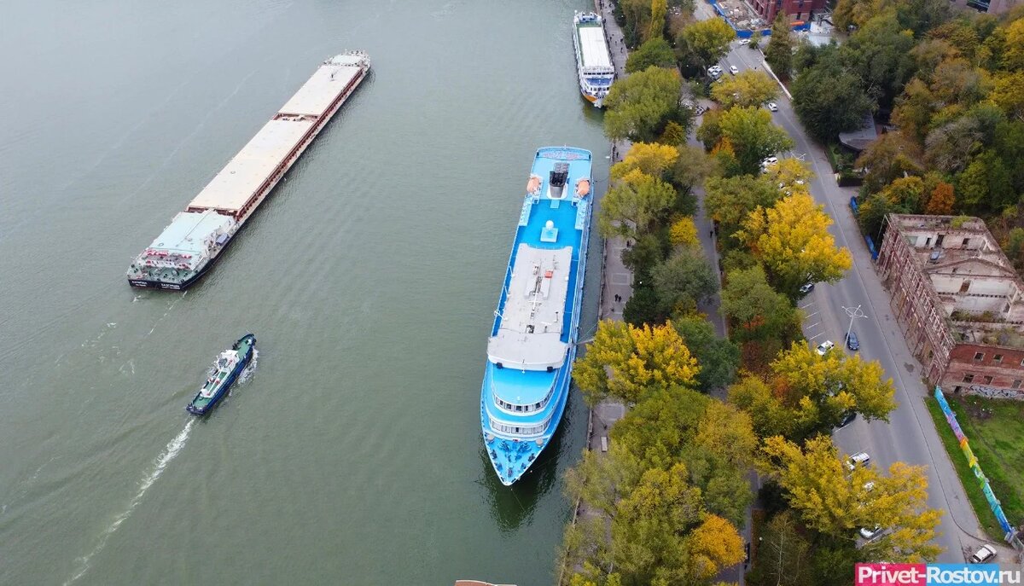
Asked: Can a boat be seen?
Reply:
Yes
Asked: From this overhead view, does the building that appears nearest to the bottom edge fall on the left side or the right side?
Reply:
right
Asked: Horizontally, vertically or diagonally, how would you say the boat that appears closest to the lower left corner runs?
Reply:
diagonally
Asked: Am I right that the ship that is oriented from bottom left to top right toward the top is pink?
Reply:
No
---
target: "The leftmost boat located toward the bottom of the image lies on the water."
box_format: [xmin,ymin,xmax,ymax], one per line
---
[184,328,257,417]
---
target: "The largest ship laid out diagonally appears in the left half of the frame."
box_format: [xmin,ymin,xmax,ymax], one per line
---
[128,45,372,297]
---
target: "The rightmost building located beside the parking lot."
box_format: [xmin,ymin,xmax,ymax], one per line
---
[874,213,1024,396]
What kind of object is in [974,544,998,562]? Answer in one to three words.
car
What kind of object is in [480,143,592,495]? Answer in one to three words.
ship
